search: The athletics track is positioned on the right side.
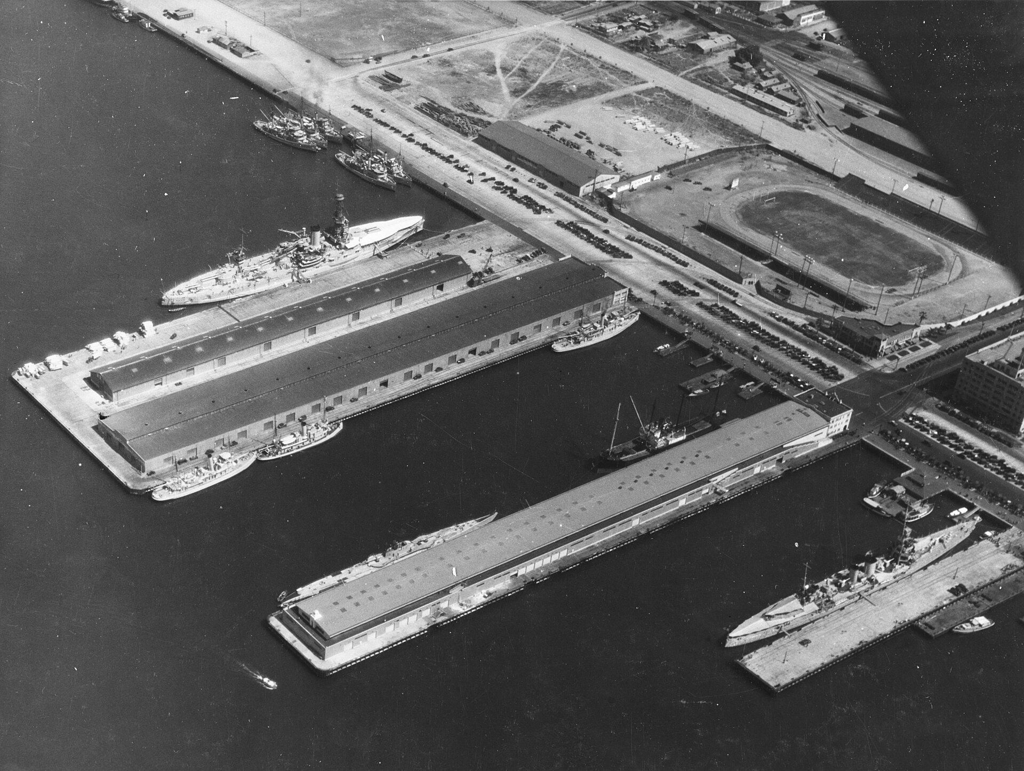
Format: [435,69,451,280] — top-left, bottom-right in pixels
[710,186,972,306]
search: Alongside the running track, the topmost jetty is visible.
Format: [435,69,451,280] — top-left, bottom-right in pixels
[12,219,642,493]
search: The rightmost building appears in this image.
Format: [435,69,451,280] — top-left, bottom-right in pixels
[952,325,1024,432]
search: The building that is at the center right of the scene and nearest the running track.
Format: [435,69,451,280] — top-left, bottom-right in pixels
[822,304,930,357]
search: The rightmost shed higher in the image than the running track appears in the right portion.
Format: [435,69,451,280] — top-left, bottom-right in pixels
[848,114,933,171]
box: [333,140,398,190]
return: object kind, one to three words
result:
ship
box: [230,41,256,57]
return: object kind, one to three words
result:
shed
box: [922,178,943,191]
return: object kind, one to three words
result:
rail car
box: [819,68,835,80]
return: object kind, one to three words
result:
rail car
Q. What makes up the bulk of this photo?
water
